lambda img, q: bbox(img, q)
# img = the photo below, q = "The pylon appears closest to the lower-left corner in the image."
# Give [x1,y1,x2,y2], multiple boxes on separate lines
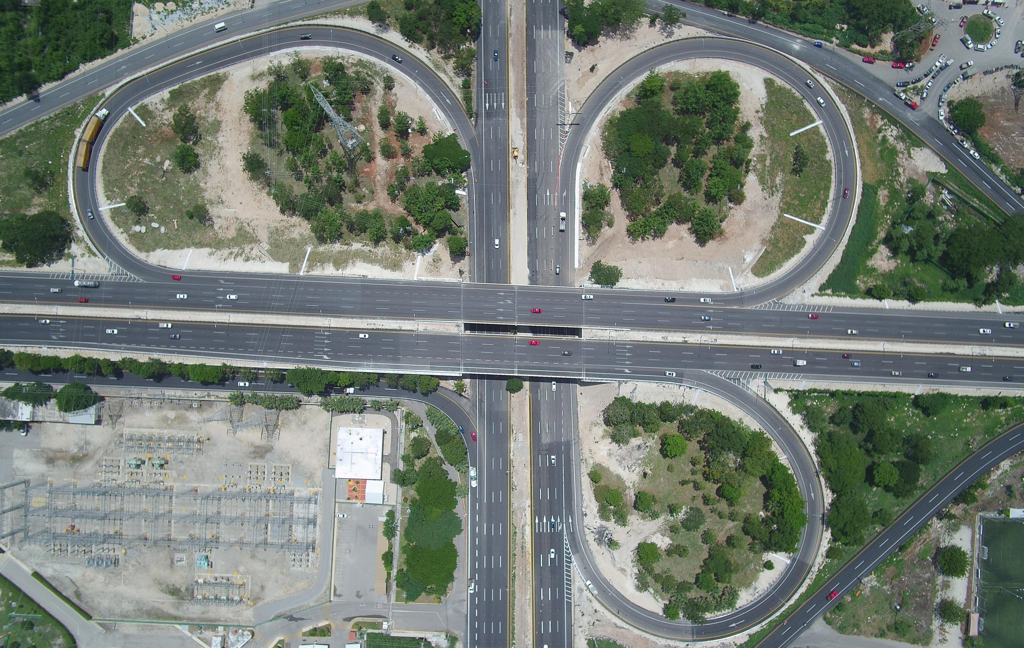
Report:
[61,400,123,420]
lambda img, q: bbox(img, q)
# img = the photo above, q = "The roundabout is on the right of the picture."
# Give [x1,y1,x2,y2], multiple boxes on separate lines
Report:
[964,13,995,44]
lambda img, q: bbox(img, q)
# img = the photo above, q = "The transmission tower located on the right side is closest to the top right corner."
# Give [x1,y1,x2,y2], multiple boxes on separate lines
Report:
[886,0,960,44]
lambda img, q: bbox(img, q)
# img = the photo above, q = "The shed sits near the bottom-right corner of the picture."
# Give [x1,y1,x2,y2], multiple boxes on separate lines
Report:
[962,610,979,636]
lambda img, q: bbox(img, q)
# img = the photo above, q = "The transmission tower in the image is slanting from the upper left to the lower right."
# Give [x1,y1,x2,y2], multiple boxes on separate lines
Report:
[307,84,369,155]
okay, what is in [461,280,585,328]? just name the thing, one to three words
bridge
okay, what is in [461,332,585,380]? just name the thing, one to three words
bridge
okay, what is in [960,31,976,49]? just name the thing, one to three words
vehicle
